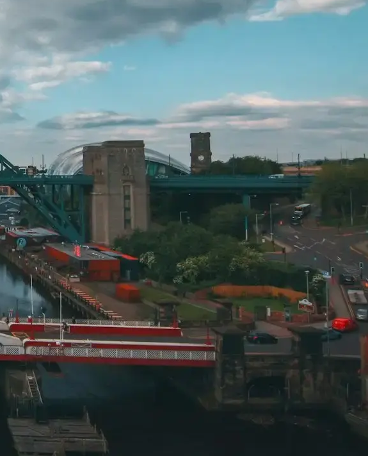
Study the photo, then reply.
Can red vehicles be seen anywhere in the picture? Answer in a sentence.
Yes, I can see a red vehicle in this picture.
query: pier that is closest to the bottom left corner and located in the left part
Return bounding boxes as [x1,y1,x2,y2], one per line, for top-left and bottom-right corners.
[4,402,118,456]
